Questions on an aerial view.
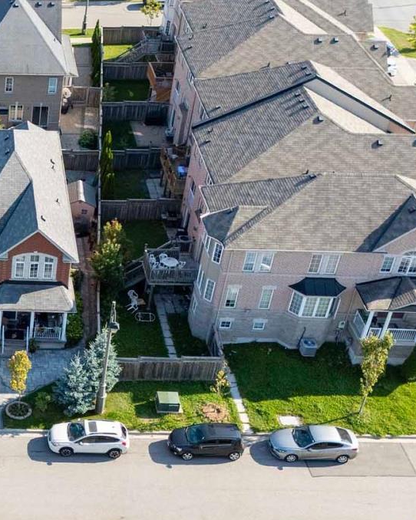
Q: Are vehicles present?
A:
Yes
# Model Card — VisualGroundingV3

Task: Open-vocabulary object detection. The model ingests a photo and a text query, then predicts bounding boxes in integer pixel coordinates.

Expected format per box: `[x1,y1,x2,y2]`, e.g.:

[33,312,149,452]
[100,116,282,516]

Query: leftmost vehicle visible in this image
[44,413,133,456]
